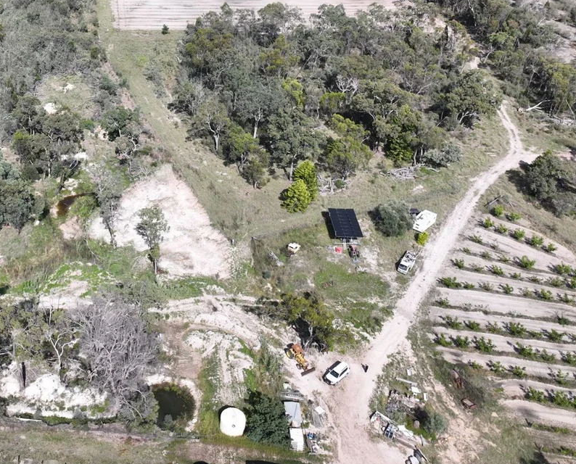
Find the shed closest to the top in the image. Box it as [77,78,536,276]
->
[284,402,304,431]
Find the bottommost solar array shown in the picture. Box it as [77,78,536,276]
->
[329,208,363,243]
